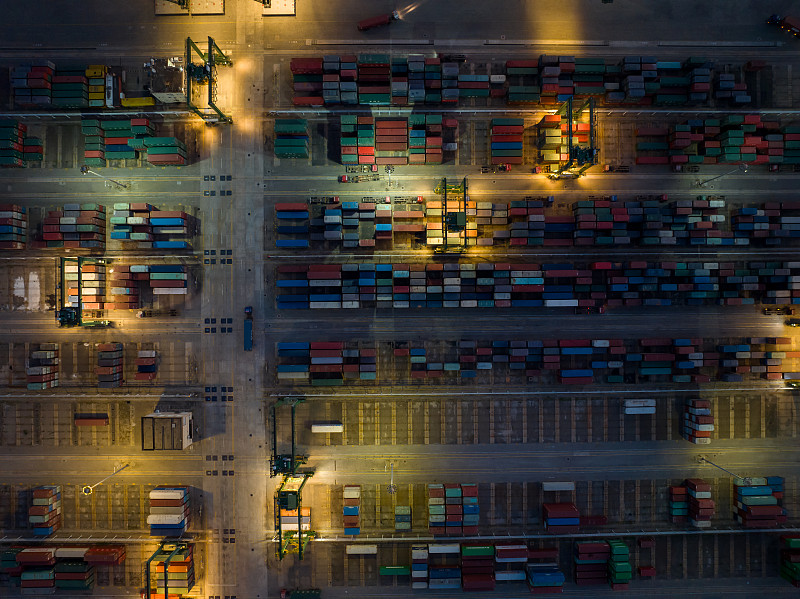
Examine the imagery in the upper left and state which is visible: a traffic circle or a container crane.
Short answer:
container crane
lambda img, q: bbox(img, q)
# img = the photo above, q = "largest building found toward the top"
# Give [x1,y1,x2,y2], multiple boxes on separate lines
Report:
[150,59,188,107]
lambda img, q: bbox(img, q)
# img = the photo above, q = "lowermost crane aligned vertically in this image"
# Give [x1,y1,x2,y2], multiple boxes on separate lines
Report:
[273,472,313,562]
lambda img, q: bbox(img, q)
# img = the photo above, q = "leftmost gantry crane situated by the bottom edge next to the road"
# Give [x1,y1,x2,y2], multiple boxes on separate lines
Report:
[140,543,191,599]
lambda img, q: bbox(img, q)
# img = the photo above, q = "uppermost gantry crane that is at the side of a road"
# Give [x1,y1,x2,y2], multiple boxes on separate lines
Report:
[184,39,232,124]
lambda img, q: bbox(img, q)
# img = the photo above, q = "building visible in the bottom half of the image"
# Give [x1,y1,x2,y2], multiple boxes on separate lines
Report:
[141,412,195,450]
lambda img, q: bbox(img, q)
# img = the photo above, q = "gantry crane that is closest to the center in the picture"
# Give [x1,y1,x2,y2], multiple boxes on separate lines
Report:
[436,177,472,252]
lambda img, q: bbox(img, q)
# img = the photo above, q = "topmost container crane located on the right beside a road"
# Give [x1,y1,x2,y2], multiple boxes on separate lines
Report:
[552,94,598,177]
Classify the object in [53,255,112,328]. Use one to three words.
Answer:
container crane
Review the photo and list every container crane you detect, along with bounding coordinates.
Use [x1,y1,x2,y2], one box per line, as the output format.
[267,396,308,476]
[436,177,472,252]
[184,39,232,124]
[273,472,313,562]
[53,255,112,328]
[552,94,598,177]
[140,543,191,599]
